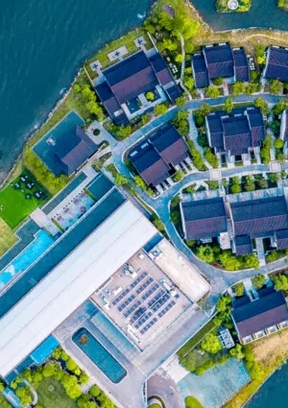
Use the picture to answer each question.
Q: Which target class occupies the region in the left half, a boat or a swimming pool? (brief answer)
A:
swimming pool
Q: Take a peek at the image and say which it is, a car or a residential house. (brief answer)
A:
residential house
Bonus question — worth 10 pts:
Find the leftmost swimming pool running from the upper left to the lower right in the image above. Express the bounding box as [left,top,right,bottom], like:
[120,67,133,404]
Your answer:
[3,388,22,408]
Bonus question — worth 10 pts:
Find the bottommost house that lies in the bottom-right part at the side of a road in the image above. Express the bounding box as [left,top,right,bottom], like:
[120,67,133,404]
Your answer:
[230,277,288,347]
